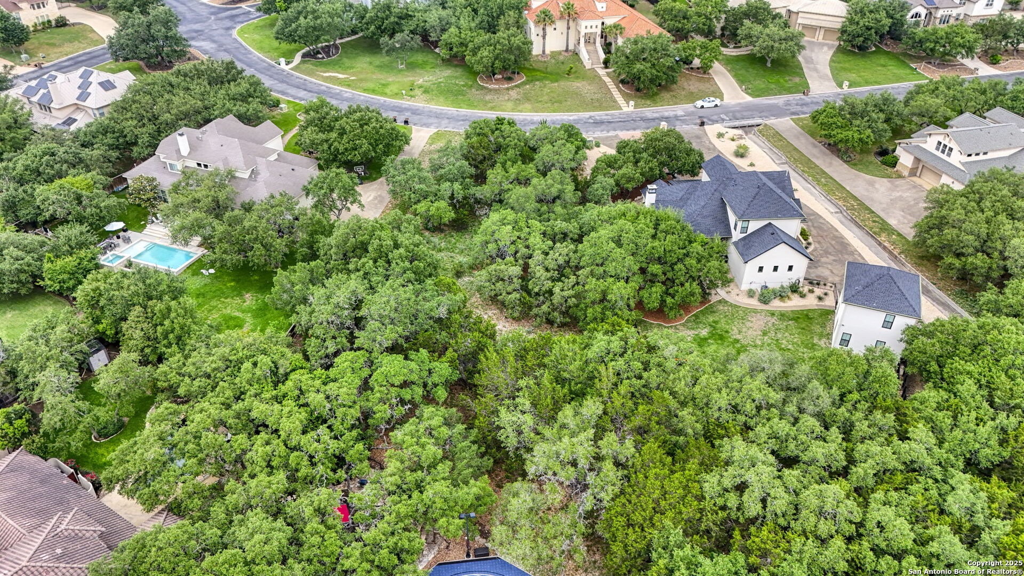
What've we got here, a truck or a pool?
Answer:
pool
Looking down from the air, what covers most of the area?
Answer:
trees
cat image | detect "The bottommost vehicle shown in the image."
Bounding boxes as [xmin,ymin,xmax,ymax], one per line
[695,97,721,109]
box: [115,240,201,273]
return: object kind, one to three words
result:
swimming pool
